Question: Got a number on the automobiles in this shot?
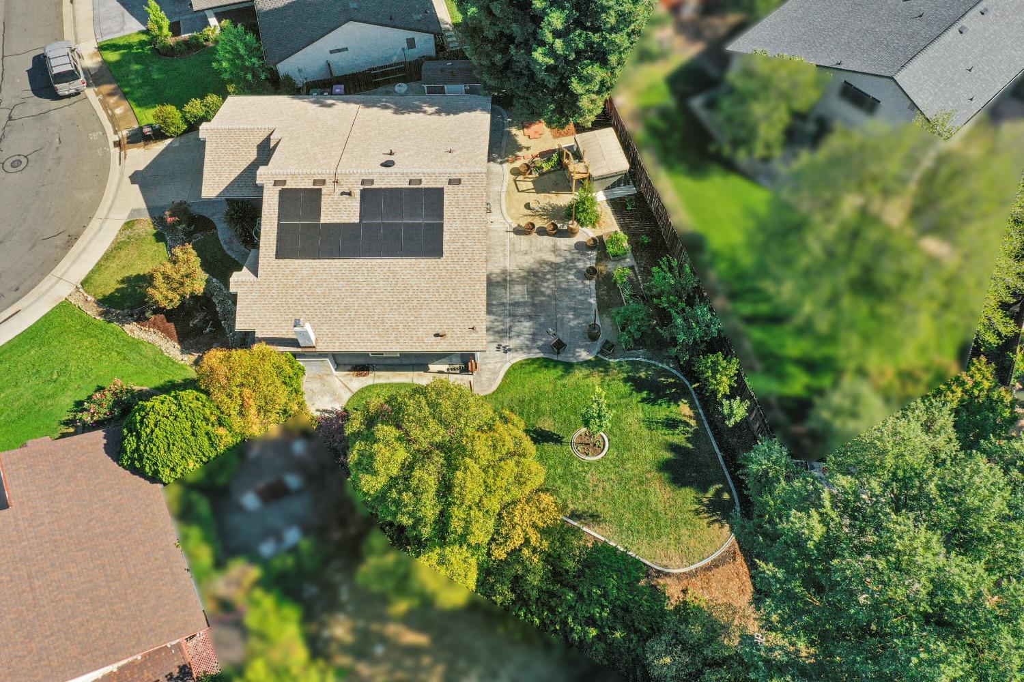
1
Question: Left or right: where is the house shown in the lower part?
left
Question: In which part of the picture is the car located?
top left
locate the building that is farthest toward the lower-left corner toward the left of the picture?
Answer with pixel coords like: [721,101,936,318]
[0,427,223,682]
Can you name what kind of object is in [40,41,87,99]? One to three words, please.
car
